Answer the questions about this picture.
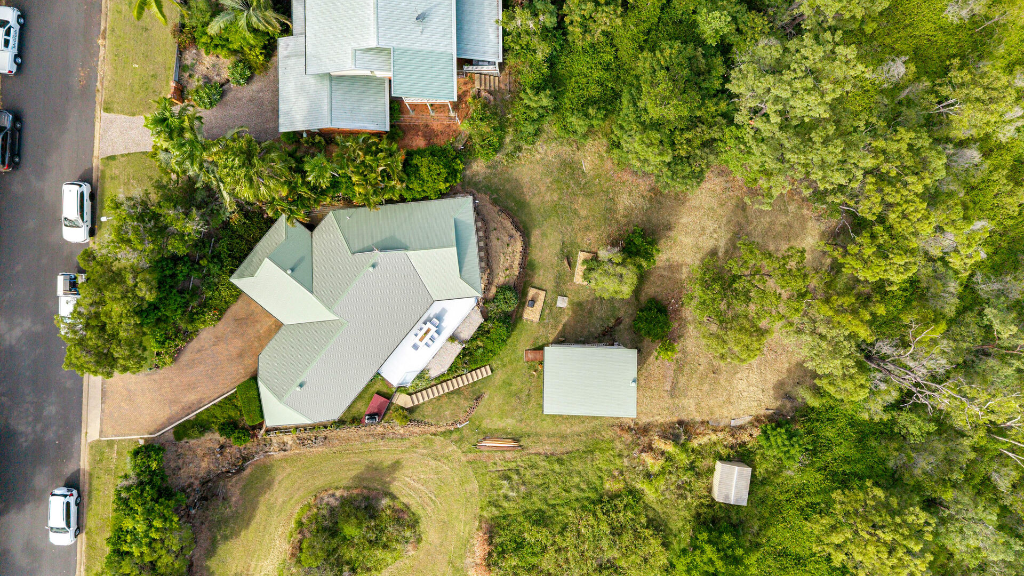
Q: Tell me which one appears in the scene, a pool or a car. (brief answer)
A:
car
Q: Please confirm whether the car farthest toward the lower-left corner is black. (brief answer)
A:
No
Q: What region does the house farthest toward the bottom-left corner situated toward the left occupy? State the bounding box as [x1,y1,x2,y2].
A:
[229,195,483,428]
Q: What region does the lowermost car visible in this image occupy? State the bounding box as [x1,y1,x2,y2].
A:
[46,486,83,546]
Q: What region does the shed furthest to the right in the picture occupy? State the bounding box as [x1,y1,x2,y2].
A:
[712,457,751,506]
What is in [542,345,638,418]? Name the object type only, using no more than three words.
shed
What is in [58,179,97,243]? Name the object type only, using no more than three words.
car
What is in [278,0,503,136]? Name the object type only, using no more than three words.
house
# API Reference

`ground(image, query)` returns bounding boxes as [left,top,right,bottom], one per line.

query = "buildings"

[542,345,638,418]
[278,0,503,136]
[229,195,483,428]
[712,457,751,506]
